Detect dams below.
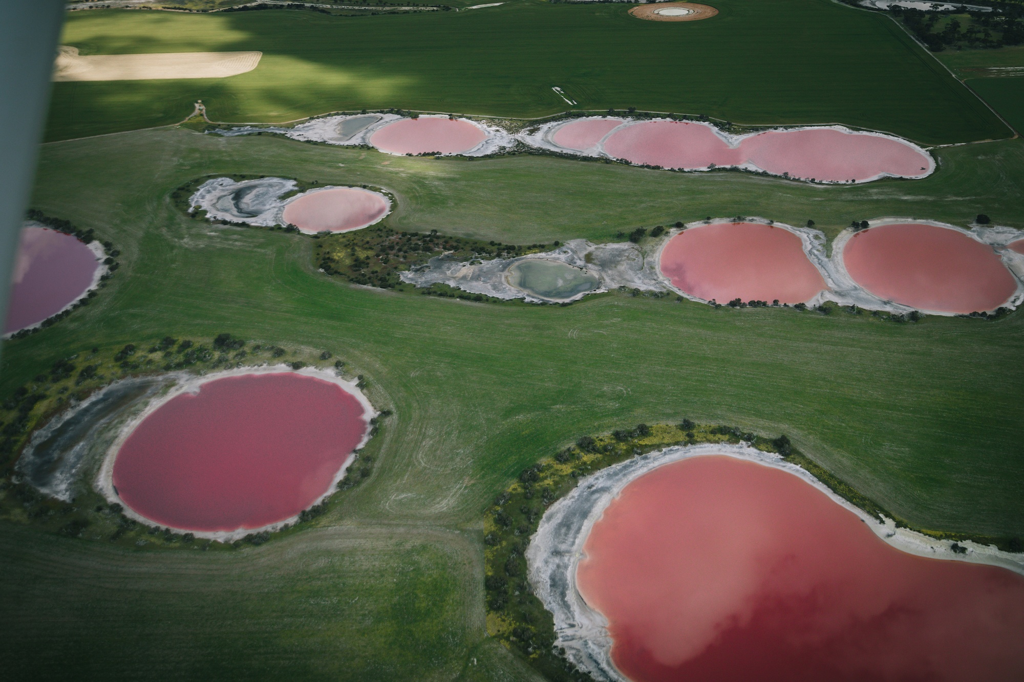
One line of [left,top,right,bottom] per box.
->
[626,0,719,23]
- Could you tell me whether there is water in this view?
Yes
